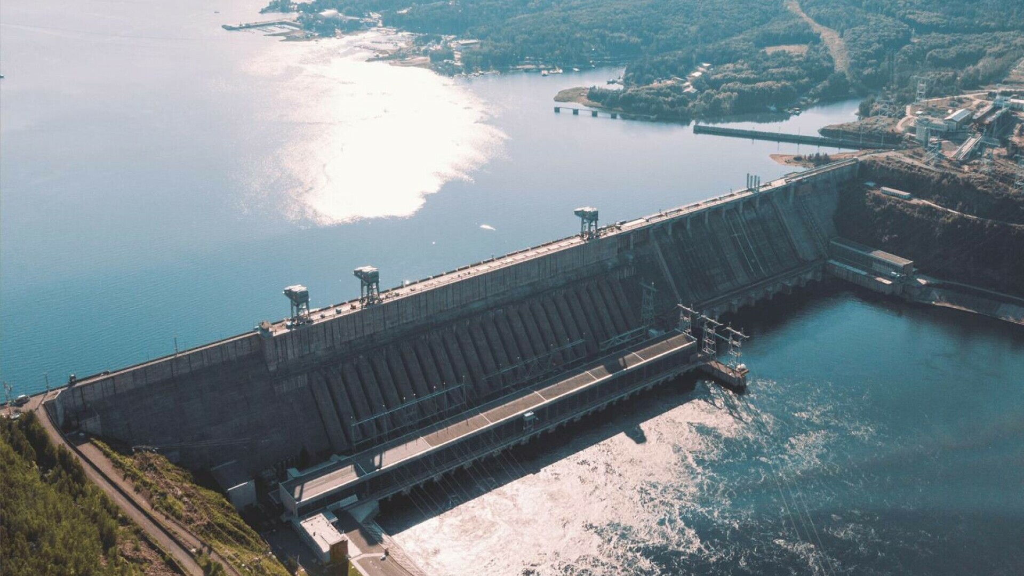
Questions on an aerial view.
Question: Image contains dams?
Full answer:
Yes, a dam can be made out from above.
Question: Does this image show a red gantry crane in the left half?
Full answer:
No, I can find no red gantry crane in the left half.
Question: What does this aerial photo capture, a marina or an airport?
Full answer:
What you see here is a marina.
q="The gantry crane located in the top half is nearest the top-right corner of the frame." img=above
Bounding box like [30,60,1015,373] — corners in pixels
[574,207,598,241]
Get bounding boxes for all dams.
[34,156,863,475]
